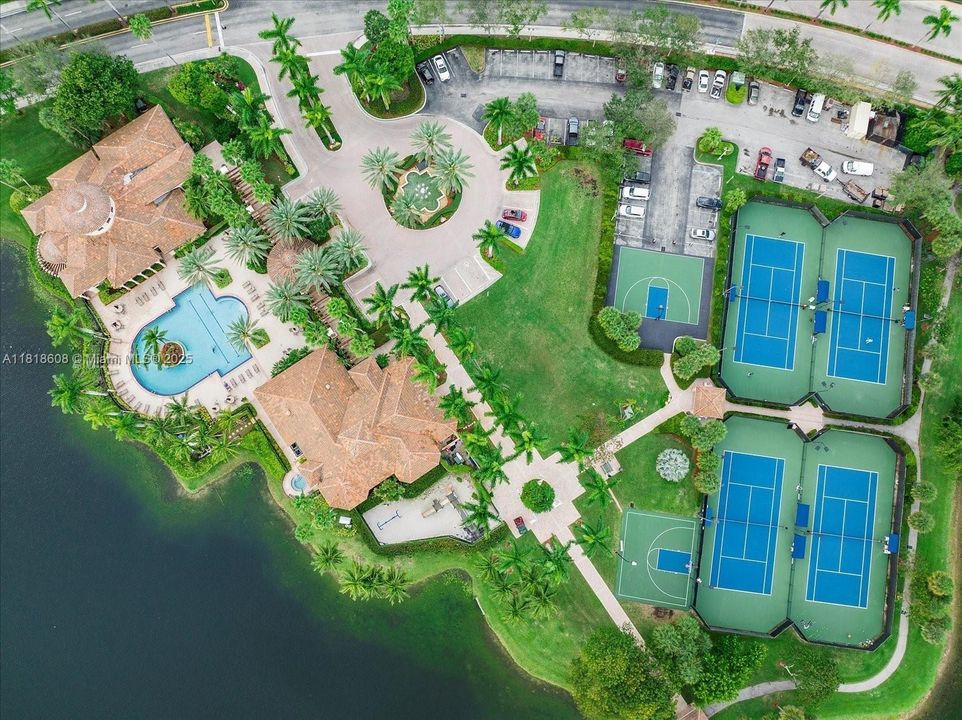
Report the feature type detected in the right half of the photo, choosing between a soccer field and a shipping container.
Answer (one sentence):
It is a shipping container that can be seen in the right half of the photo.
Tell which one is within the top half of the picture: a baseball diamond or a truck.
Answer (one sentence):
The one visible within the top half of the picture is a truck.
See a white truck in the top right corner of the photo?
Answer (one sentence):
Yes, I can see a white truck in the top right corner of the photo.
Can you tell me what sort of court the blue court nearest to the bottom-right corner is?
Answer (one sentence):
Specifically, the blue court nearest to the bottom-right corner is a tennis court.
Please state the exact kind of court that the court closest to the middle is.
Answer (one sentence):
I'd identify the court closest to the middle as a basketball court.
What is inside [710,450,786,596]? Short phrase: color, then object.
blue tennis court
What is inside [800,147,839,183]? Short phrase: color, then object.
white truck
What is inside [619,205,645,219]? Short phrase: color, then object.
white car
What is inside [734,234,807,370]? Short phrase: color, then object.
blue tennis court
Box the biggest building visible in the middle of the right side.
[689,386,727,417]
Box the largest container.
[843,101,872,145]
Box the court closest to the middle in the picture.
[605,244,715,353]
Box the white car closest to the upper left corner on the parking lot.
[434,54,450,83]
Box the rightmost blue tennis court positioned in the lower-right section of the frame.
[806,464,882,609]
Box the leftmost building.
[20,103,209,298]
